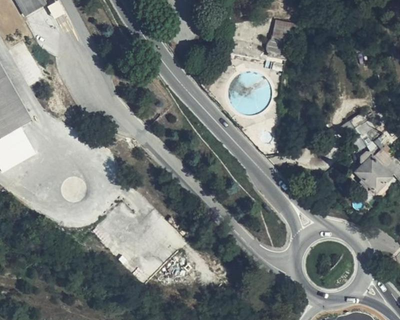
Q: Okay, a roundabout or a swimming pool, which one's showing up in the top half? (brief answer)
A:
swimming pool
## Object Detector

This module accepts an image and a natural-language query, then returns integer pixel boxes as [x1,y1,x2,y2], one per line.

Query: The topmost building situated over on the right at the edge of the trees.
[266,18,296,54]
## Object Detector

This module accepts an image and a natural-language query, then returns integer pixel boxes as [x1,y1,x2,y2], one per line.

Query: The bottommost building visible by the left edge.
[0,126,36,173]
